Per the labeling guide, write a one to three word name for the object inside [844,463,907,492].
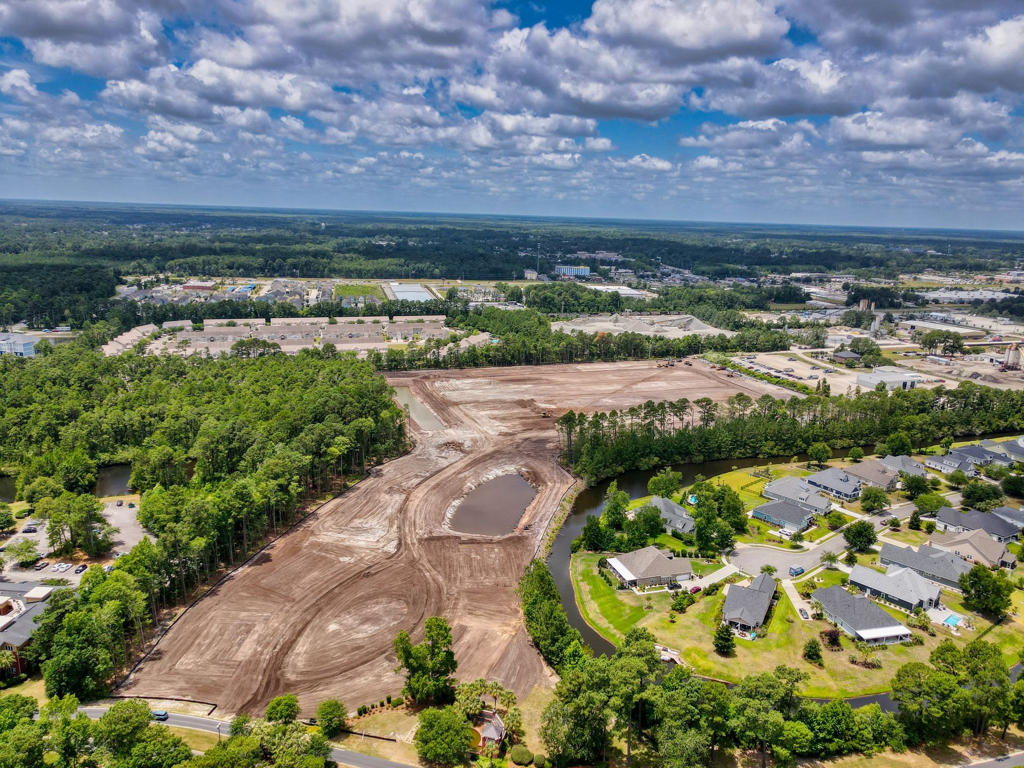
house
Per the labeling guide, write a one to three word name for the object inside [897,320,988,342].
building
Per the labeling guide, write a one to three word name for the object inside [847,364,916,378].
shed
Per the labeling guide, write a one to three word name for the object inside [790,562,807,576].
vehicle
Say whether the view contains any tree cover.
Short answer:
Yes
